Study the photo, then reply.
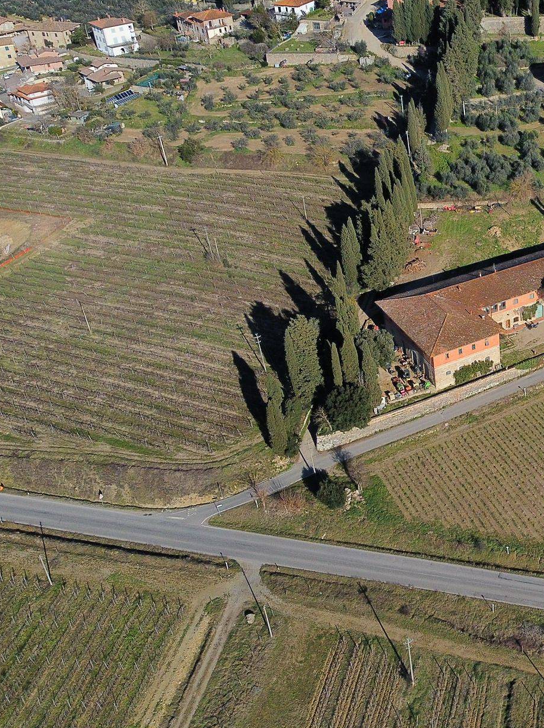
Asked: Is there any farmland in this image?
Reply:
Yes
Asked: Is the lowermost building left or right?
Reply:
right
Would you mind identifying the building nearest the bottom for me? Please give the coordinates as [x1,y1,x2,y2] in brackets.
[365,239,544,391]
